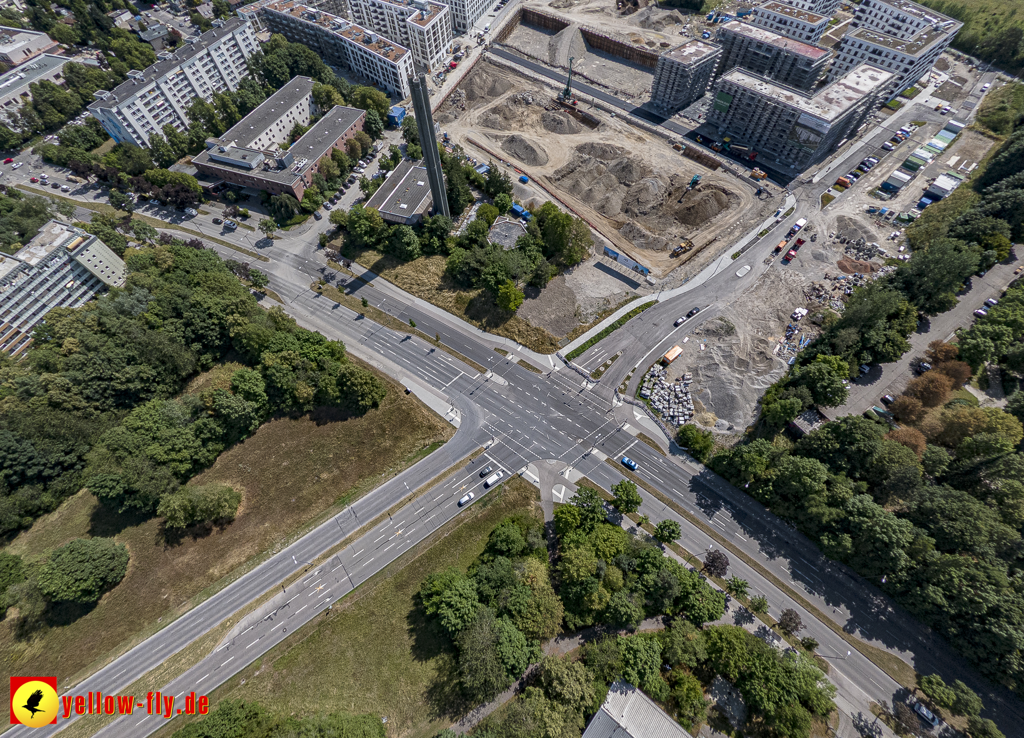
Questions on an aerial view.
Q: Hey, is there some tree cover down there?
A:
Yes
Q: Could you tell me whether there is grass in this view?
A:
Yes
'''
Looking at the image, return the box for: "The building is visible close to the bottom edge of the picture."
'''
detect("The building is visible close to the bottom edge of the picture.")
[580,682,677,738]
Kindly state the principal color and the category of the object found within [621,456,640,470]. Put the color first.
blue car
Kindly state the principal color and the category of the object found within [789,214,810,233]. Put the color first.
white vehicle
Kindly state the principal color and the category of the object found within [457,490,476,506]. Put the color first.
white car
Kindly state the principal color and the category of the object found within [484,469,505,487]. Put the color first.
white vehicle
